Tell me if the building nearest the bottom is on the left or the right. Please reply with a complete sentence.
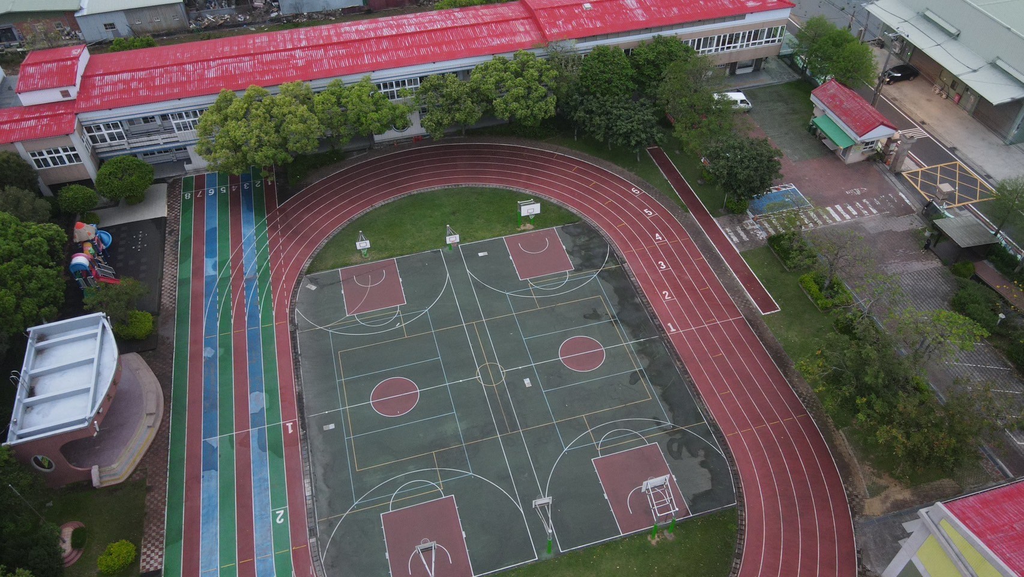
You can find the building nearest the bottom on the right side of the picture.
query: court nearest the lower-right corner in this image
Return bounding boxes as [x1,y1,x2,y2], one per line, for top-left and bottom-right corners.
[297,222,732,577]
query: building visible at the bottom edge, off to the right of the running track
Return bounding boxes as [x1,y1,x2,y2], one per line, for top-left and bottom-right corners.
[881,471,1024,577]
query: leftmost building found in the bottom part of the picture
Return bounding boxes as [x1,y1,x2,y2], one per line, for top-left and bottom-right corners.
[1,312,165,487]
